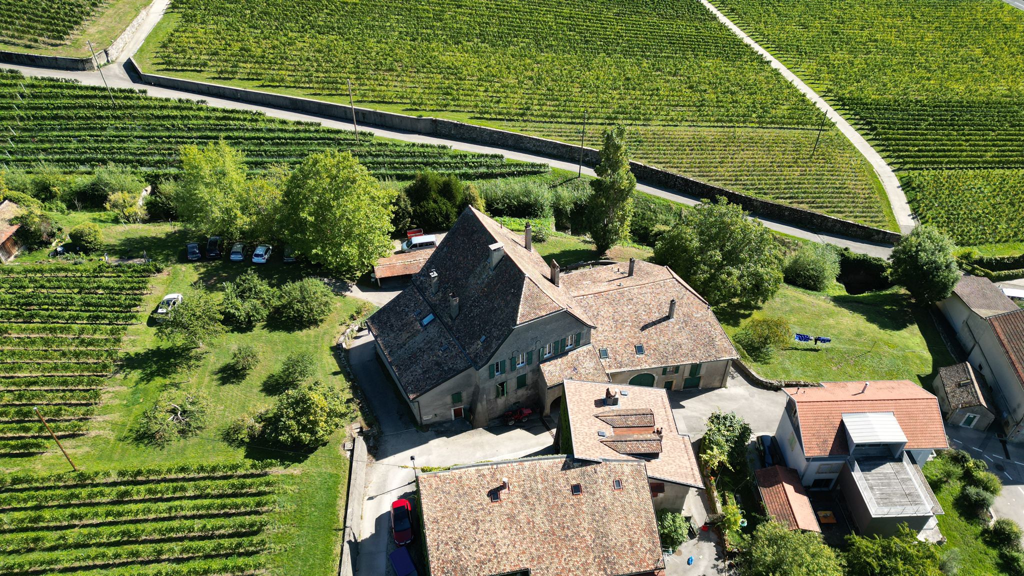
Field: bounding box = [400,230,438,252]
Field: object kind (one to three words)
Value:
vehicle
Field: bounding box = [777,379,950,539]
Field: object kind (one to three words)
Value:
house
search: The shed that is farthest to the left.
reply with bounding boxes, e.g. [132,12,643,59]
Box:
[0,200,28,267]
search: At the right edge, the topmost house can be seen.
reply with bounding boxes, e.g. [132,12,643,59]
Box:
[934,275,1024,360]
